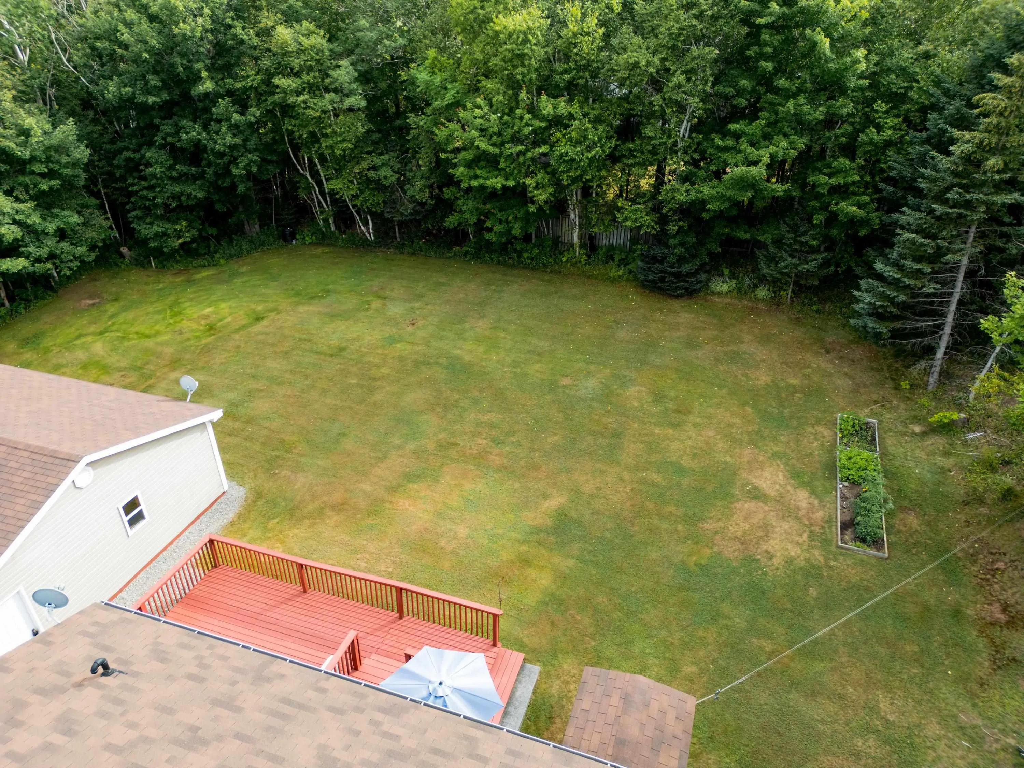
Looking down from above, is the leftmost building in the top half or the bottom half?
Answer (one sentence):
The leftmost building sits in the bottom half of the picture.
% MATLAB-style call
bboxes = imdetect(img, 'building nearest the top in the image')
[0,363,228,656]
